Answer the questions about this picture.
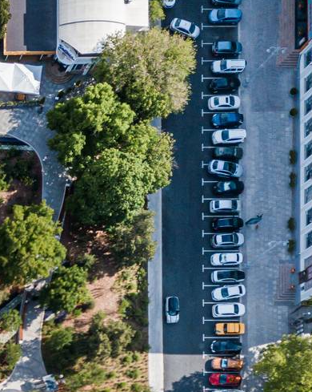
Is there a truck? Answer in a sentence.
No, this view has no truck in it.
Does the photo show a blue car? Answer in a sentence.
Yes, the picture does show a blue car.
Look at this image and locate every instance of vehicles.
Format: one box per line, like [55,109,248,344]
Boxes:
[213,268,243,283]
[209,7,242,25]
[208,94,240,109]
[211,160,240,176]
[212,58,245,74]
[210,251,243,266]
[169,15,201,40]
[165,295,182,324]
[209,197,242,214]
[211,302,244,318]
[211,180,244,195]
[212,232,242,248]
[209,371,242,386]
[211,285,245,300]
[211,39,243,55]
[212,127,245,144]
[215,320,245,336]
[209,76,242,93]
[160,0,175,18]
[211,215,244,231]
[213,144,243,161]
[211,110,244,128]
[213,0,242,8]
